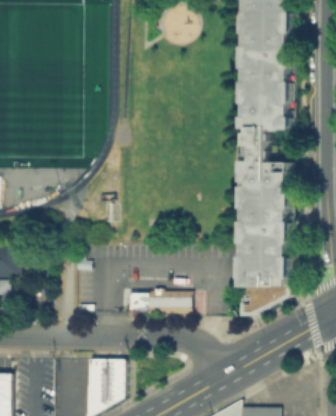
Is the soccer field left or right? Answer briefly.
left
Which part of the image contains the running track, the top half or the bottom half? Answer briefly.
top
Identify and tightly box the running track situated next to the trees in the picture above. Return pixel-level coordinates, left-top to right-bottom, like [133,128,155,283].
[0,0,119,217]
